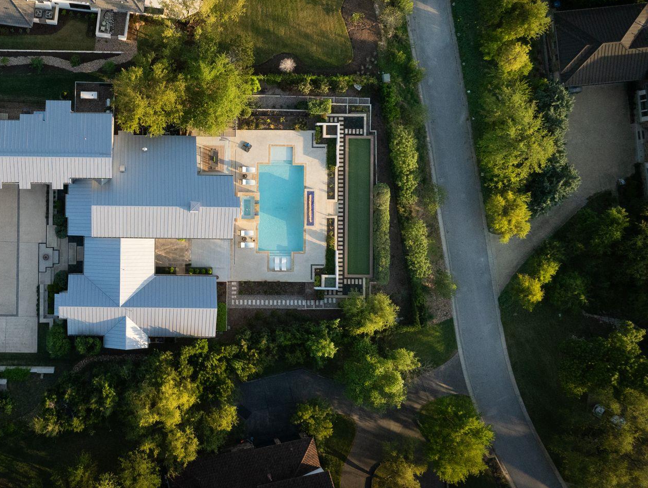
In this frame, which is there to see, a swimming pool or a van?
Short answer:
swimming pool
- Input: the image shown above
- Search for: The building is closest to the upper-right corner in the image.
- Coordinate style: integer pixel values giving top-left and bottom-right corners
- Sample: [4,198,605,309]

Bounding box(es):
[545,2,648,88]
